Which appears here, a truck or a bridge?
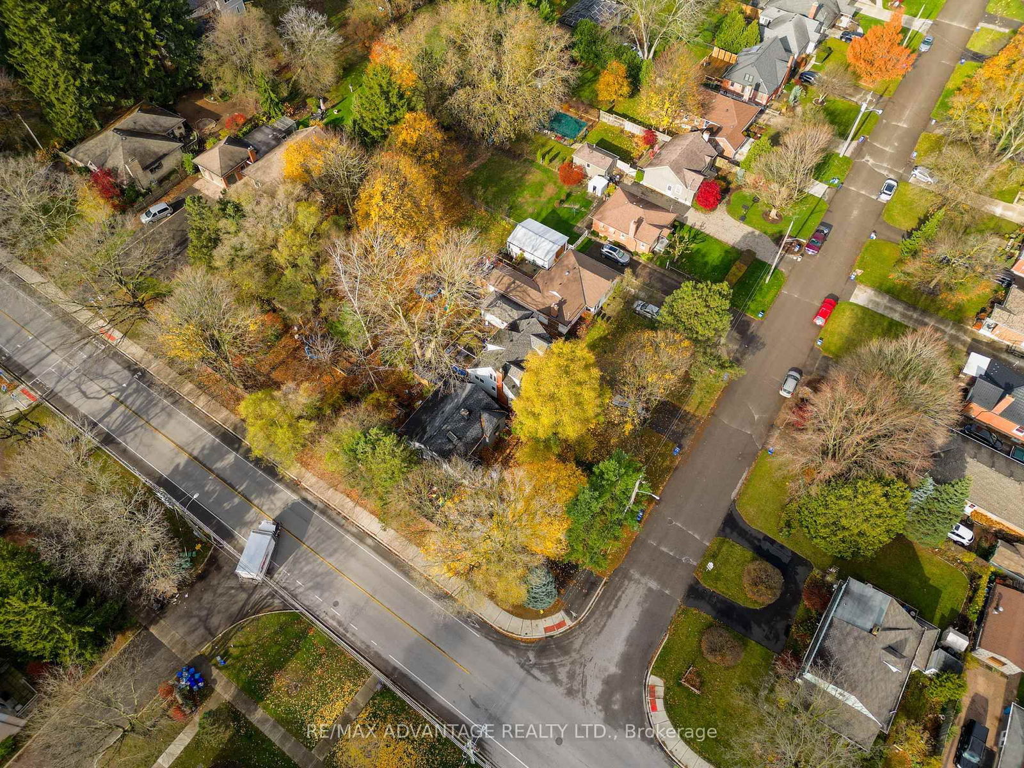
truck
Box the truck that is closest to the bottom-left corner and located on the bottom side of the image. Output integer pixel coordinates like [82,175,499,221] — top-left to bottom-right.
[230,519,286,592]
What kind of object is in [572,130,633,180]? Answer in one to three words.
building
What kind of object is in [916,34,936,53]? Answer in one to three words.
car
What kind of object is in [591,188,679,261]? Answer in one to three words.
house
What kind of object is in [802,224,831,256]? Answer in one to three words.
truck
